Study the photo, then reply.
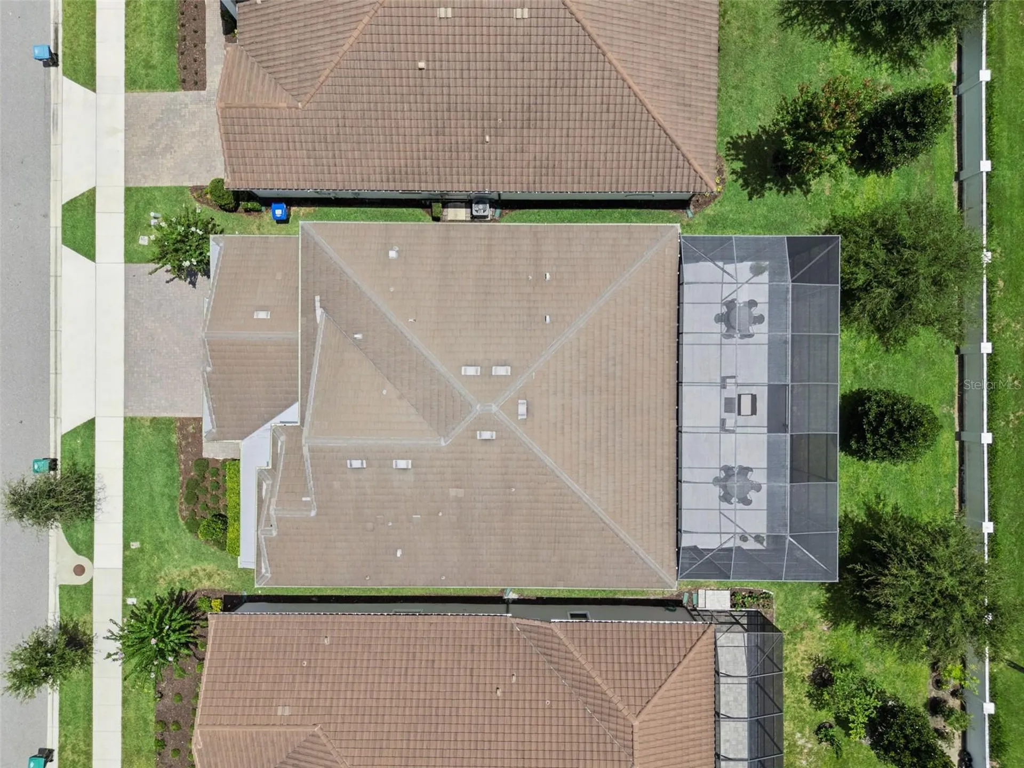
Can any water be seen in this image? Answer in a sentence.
No, no water is visible.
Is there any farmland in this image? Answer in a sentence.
No, no farmland is visible.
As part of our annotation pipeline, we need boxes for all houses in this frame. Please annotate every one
[215,0,720,202]
[202,221,683,592]
[191,600,718,768]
